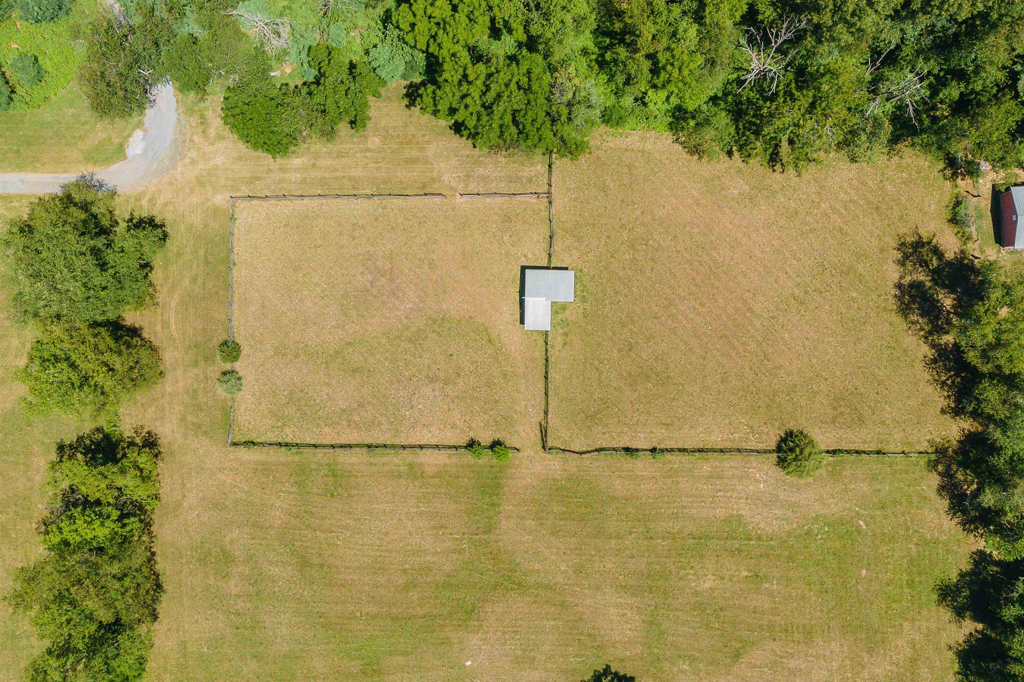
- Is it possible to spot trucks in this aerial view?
No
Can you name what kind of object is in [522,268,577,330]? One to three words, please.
shed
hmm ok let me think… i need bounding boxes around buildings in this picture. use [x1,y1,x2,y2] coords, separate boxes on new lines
[998,189,1024,247]
[522,268,577,330]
